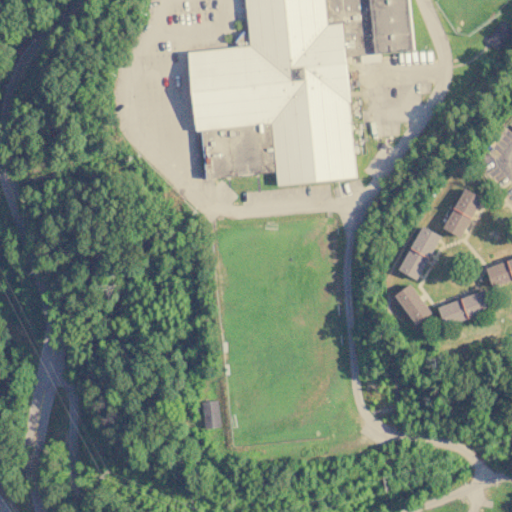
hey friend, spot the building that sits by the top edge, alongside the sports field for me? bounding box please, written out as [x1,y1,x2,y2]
[188,0,358,187]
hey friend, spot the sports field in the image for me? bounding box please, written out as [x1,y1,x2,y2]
[217,214,346,446]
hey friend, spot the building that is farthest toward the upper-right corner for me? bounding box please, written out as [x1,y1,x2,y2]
[372,0,416,54]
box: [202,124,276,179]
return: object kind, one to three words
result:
building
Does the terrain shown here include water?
No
